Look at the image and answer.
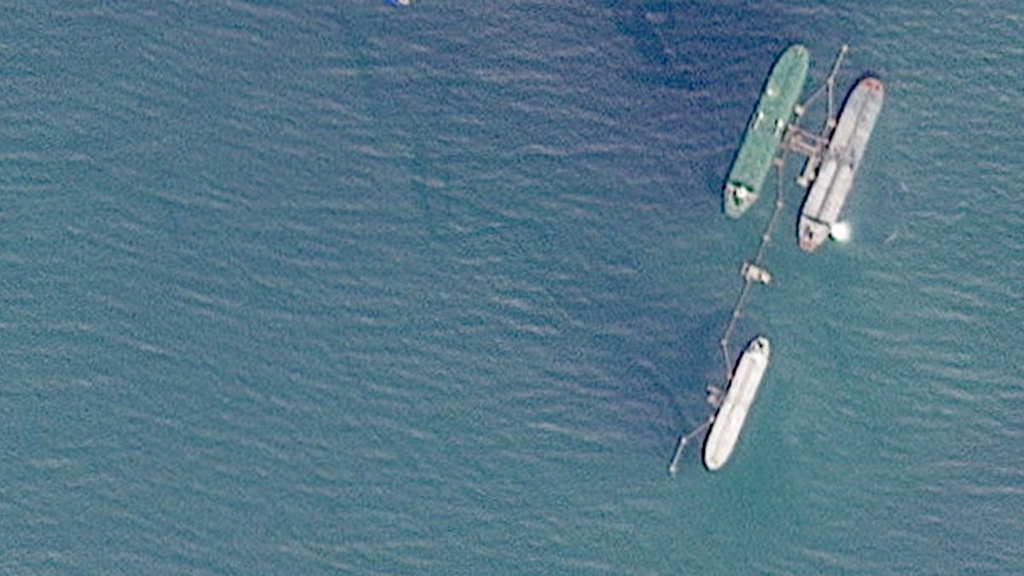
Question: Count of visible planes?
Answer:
0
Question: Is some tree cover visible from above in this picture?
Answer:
No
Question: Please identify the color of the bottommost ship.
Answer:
white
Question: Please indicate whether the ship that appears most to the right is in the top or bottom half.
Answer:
top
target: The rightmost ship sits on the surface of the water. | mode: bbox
[799,77,883,253]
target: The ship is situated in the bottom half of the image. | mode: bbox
[705,335,771,471]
